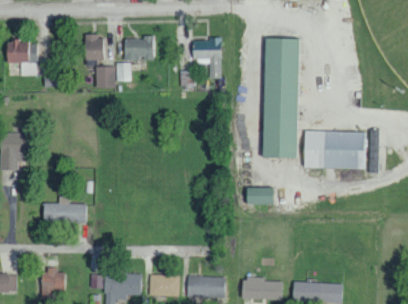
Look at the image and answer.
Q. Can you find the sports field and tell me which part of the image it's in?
top right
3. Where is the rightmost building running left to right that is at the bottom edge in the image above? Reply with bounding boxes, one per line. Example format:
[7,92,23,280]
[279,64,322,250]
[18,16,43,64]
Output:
[293,282,343,303]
